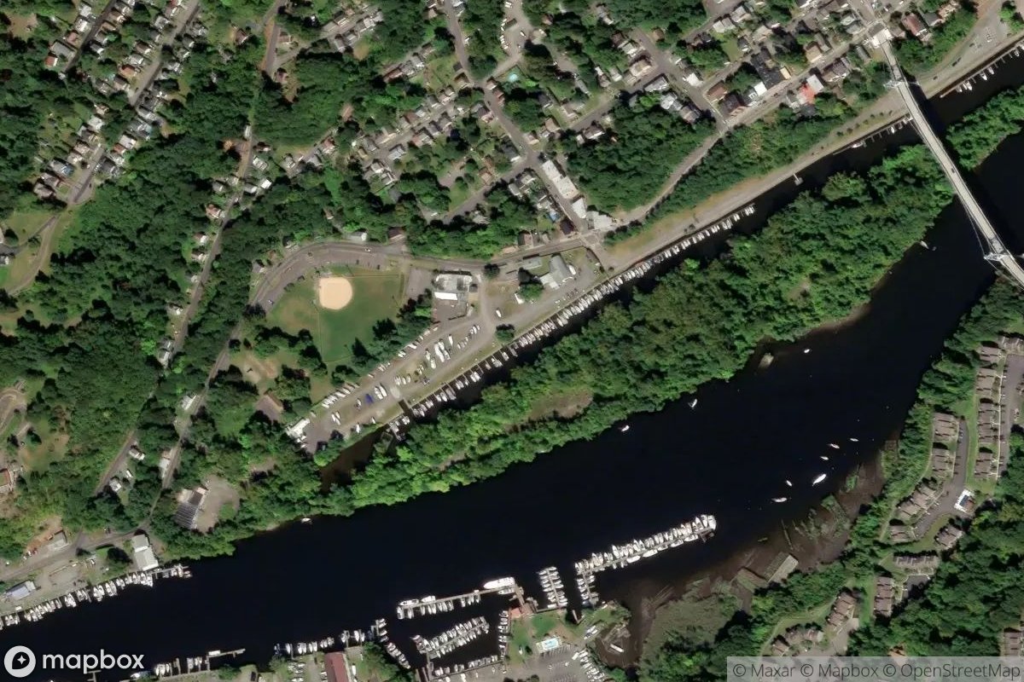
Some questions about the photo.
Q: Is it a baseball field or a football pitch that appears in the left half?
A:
baseball field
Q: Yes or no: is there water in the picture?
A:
Yes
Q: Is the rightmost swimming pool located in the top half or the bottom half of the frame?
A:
bottom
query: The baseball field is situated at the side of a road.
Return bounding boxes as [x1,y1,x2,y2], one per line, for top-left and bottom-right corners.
[267,269,404,362]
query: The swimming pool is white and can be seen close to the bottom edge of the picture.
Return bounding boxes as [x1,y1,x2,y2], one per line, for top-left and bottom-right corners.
[538,638,563,653]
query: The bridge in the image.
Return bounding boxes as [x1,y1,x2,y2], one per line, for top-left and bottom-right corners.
[868,21,1024,305]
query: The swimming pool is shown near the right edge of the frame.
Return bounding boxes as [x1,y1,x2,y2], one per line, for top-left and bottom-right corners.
[952,487,975,513]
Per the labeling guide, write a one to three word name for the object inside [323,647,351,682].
barn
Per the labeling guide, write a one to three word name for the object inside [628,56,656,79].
building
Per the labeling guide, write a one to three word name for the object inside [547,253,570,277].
shed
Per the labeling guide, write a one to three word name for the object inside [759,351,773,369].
ship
